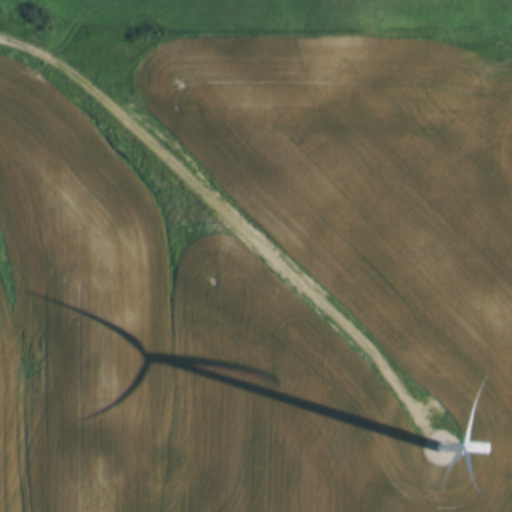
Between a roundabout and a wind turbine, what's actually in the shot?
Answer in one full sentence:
I can see a wind turbine in this picture.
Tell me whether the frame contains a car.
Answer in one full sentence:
No, there is no car in the image.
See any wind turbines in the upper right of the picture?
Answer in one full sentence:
No, I can find no wind turbine in the upper right of the picture.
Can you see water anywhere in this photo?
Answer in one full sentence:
No, there's no water in this view.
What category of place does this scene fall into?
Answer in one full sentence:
It's farmland.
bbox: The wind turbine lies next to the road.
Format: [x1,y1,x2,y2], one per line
[436,384,490,502]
